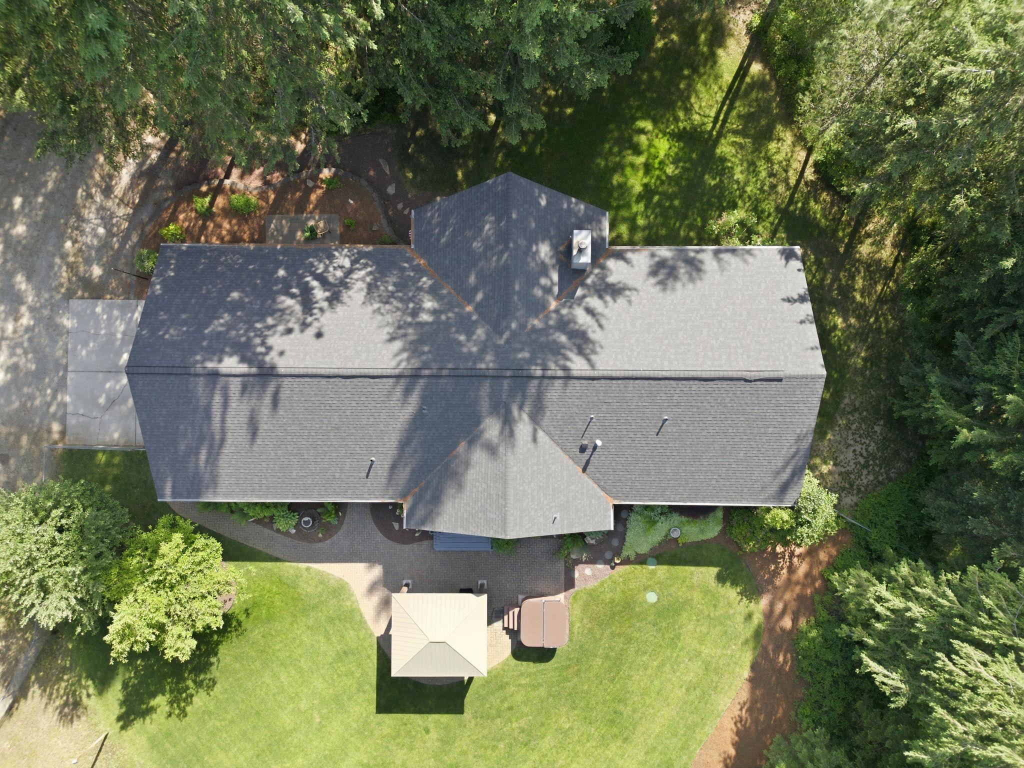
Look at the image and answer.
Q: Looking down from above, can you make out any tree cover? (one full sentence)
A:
Yes, the picture does contain tree cover.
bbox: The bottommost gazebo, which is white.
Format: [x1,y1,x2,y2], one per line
[391,581,488,678]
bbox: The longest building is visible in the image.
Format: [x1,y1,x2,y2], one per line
[125,172,827,539]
